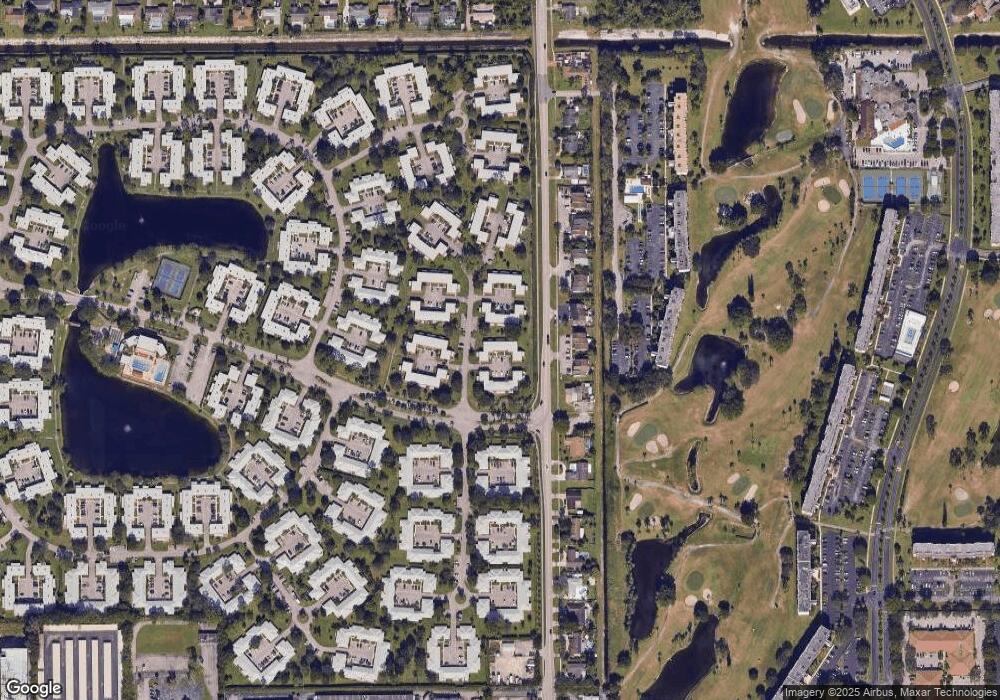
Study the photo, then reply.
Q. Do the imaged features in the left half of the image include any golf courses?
No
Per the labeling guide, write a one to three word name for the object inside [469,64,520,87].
building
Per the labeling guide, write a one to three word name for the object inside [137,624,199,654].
sports field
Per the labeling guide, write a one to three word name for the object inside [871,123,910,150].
swimming pool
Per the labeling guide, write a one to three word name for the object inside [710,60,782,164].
pond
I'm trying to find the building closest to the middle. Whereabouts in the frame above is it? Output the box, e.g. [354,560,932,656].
[476,341,526,363]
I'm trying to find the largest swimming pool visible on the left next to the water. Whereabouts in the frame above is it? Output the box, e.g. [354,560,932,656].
[120,353,154,382]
